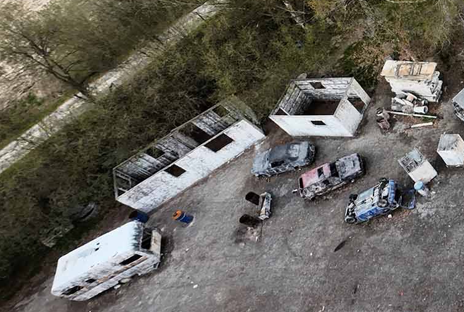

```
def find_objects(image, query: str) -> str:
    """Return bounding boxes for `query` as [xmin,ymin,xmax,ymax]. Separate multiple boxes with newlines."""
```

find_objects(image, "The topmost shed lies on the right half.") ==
[269,77,369,136]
